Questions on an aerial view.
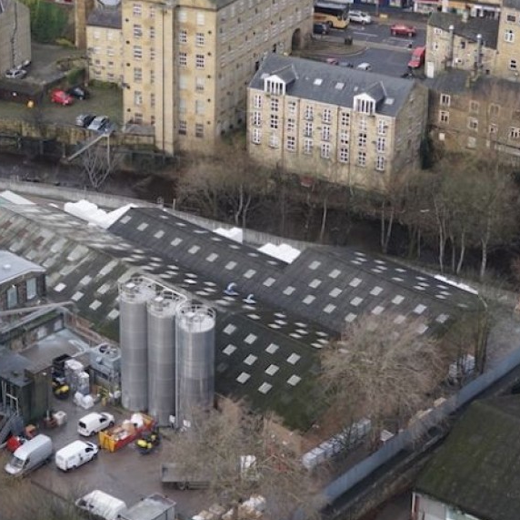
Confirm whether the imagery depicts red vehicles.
Yes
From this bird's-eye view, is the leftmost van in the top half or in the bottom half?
bottom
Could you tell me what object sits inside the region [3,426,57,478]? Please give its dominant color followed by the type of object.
gray van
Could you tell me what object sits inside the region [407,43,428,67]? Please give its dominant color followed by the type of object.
red vehicle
